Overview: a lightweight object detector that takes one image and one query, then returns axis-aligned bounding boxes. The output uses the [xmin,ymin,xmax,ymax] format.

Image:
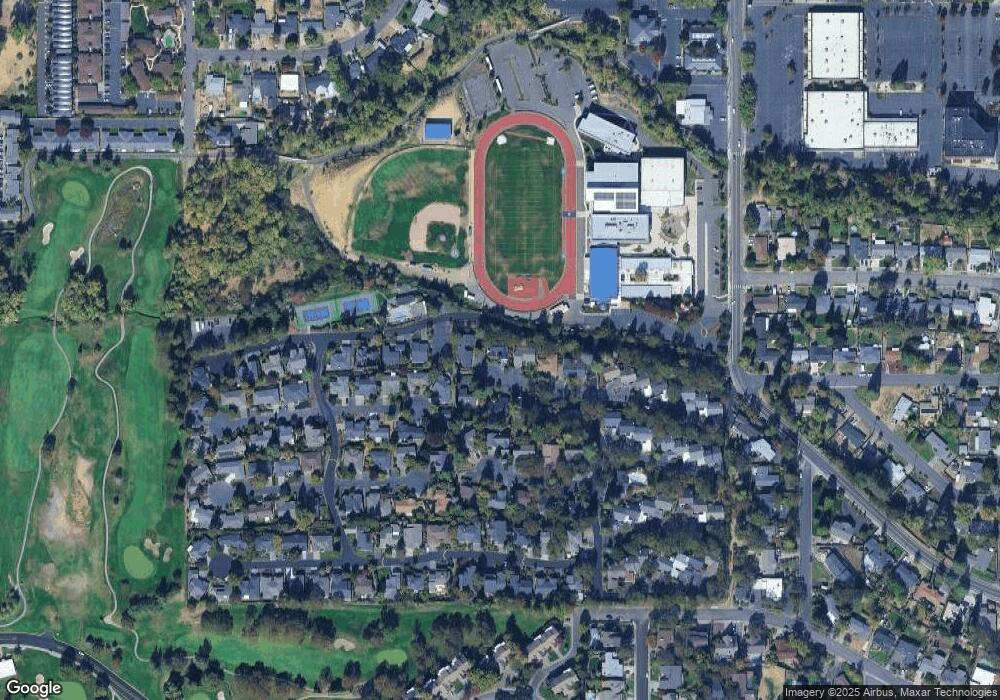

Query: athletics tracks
[475,111,588,311]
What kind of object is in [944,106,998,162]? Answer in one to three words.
building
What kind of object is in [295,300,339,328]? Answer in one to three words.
tennis court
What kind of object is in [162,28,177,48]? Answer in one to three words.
swimming pool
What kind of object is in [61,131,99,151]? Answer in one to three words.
house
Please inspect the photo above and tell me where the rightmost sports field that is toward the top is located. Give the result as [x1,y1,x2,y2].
[485,122,564,298]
